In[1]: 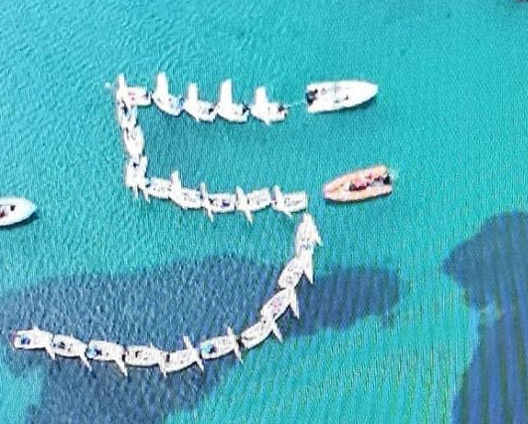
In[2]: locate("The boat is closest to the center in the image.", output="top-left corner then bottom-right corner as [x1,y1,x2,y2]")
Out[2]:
[238,187,273,229]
